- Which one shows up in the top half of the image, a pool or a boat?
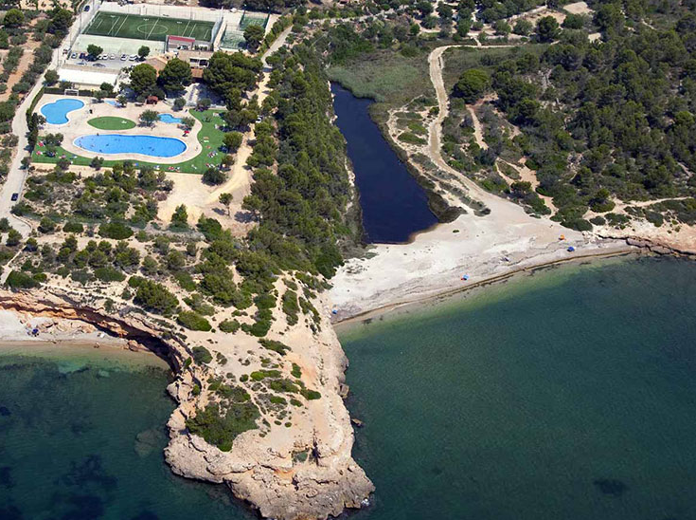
pool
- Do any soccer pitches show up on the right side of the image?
No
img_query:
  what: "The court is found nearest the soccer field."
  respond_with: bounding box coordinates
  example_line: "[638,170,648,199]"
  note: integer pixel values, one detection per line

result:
[220,24,248,49]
